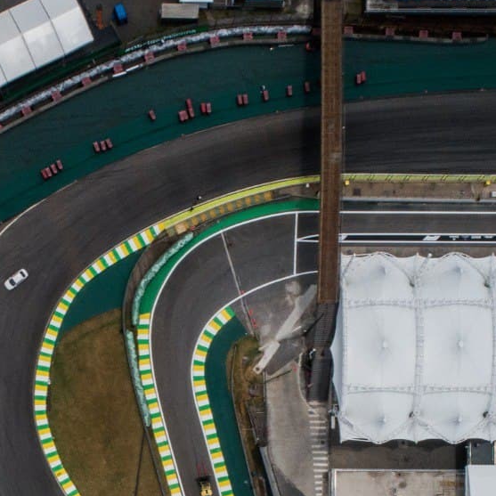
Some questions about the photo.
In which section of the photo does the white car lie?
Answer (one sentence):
The white car is in the left part of the image.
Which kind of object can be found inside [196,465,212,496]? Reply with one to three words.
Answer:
work vehicle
